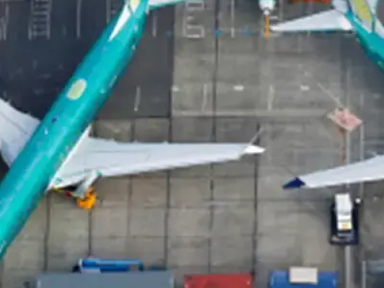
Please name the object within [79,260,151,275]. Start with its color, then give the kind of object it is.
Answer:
blue work vehicle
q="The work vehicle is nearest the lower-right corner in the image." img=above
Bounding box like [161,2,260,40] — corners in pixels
[329,192,361,247]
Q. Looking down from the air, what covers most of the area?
paved ground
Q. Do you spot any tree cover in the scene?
No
